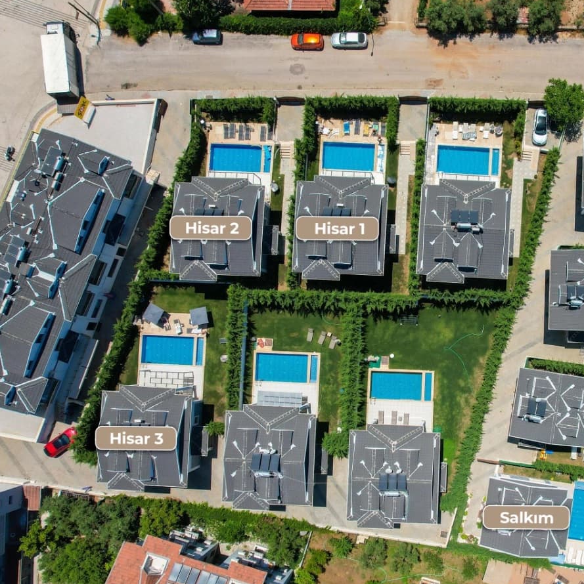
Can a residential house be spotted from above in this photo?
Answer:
Yes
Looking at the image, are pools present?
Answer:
Yes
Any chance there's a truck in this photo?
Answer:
Yes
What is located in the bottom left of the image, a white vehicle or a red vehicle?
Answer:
red vehicle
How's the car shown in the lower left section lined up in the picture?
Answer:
diagonally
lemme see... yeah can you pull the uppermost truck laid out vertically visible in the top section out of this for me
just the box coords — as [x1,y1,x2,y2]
[41,20,83,102]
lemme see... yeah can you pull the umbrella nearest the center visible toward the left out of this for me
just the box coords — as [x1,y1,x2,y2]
[188,306,221,327]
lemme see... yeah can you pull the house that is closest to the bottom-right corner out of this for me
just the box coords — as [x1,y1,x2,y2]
[477,464,575,566]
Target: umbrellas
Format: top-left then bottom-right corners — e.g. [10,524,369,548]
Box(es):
[188,306,221,327]
[140,301,176,327]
